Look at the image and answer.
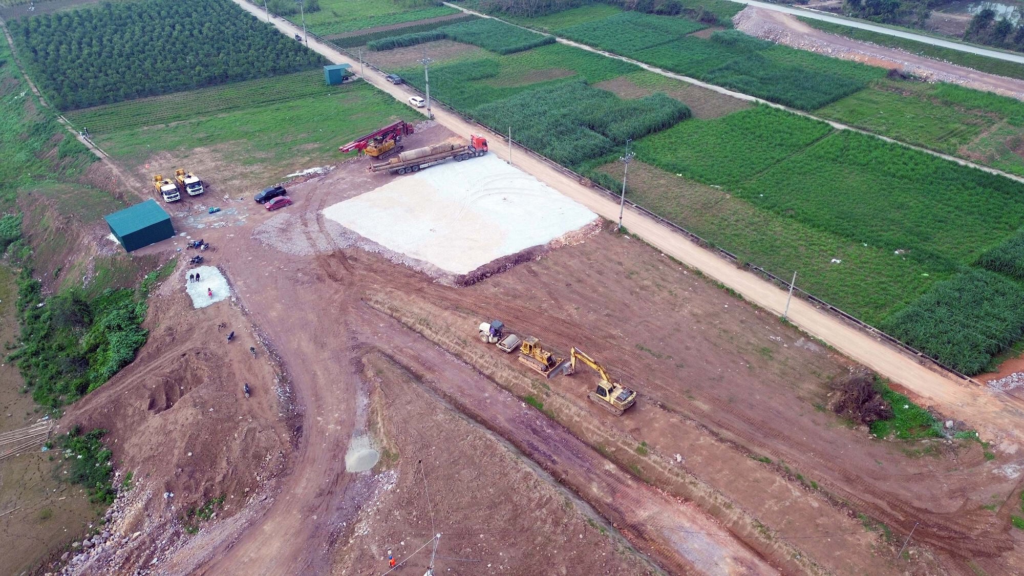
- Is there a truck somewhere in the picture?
Yes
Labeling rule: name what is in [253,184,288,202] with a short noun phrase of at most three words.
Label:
vehicle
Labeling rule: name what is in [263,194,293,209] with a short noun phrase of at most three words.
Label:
car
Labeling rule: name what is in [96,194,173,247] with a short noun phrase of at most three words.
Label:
shed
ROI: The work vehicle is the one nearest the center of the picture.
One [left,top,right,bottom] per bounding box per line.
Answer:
[476,318,520,354]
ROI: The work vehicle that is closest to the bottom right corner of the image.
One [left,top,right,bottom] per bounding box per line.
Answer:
[560,346,639,419]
